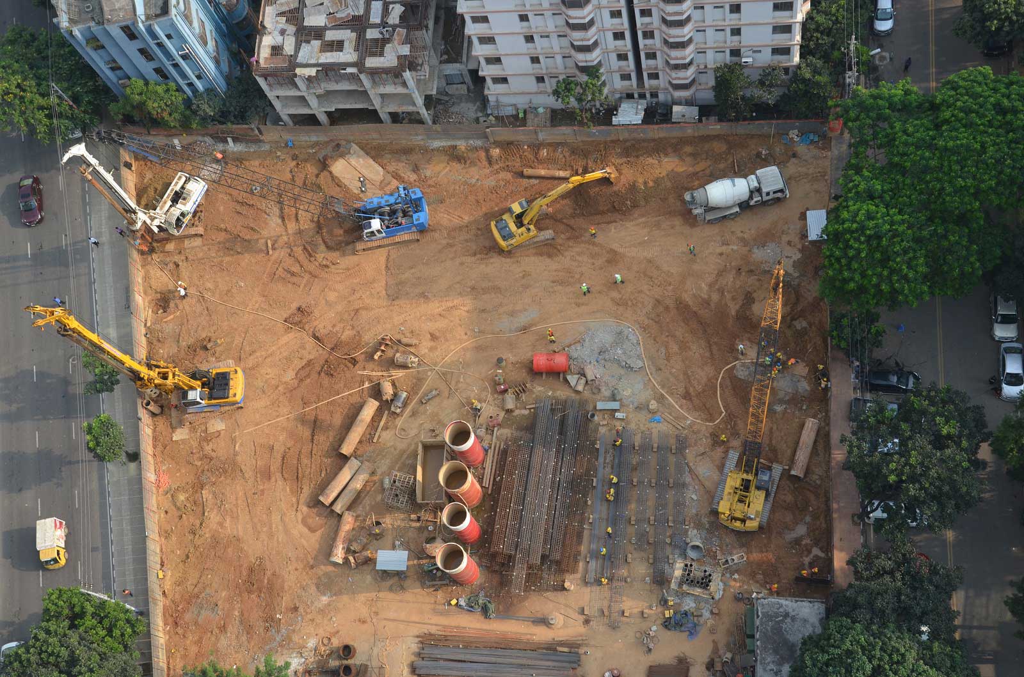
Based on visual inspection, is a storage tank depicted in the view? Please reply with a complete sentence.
Yes, there's a storage tank here.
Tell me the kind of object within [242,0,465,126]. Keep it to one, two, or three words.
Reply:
building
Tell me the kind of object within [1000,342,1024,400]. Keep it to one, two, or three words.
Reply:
car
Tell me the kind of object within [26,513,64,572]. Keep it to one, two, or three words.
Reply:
truck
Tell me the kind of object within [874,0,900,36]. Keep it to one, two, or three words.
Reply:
car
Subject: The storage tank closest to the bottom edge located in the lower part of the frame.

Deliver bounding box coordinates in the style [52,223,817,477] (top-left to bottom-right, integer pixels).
[436,543,485,587]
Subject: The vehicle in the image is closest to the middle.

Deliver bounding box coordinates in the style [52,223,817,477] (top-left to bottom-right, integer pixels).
[485,163,620,259]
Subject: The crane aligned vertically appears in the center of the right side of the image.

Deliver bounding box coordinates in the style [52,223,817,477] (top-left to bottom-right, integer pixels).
[706,257,784,535]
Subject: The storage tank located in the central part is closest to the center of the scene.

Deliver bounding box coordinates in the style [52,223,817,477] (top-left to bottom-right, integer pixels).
[532,354,568,385]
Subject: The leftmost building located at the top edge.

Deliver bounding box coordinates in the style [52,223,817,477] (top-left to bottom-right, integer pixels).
[54,0,268,103]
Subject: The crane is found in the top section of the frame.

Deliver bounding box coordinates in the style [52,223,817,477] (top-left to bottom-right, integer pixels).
[78,124,432,255]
